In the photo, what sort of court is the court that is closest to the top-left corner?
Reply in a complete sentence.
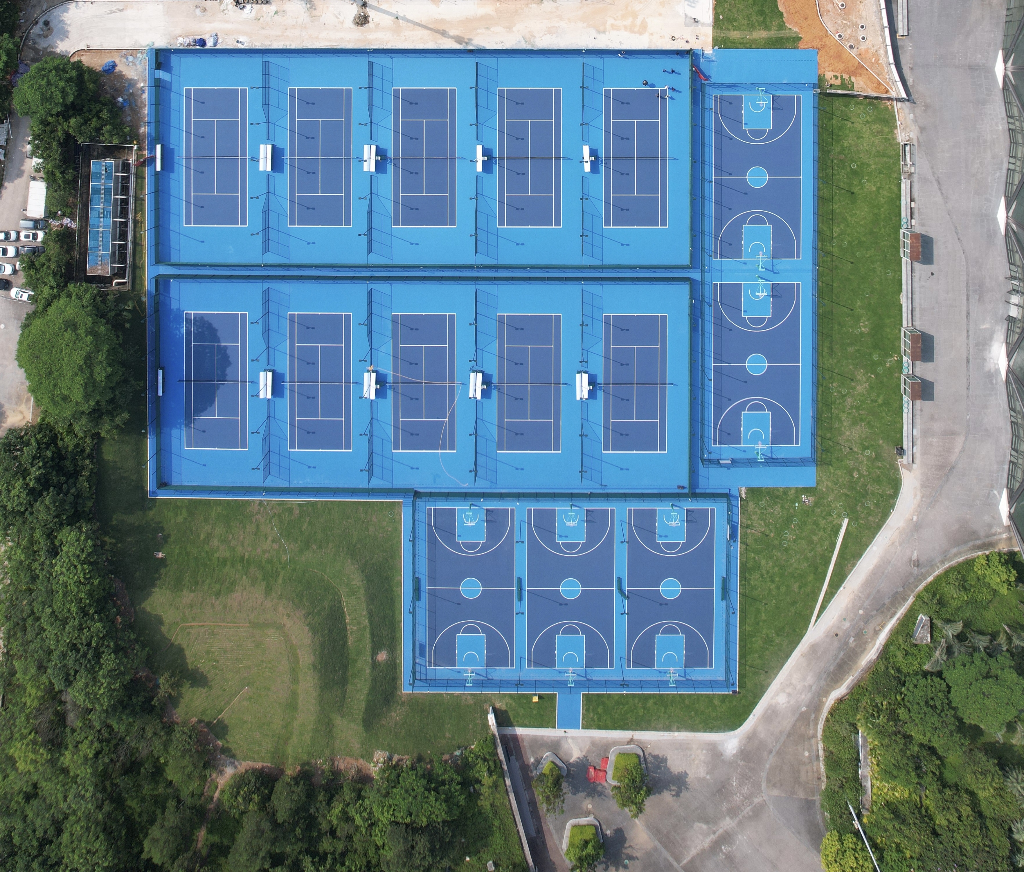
It turns out the court that is closest to the top-left corner is a tennis court.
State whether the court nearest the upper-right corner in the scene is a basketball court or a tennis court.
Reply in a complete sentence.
From above, the court nearest the upper-right corner can be identified as a basketball court.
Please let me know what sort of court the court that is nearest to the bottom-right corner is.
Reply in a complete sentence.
Looking closely, the court that is nearest to the bottom-right corner is a basketball court.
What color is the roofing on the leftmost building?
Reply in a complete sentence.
The color of the roof on the leftmost building is blue.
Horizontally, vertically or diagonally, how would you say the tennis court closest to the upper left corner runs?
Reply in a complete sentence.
In this picture, the tennis court closest to the upper left corner lies vertically.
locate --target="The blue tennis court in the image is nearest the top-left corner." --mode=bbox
[184,88,248,226]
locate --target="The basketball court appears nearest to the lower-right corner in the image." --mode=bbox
[626,508,716,669]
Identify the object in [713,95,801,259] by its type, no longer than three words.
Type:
basketball court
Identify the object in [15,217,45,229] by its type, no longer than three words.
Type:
vehicle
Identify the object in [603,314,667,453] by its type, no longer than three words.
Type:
tennis court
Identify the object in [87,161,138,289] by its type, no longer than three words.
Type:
building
